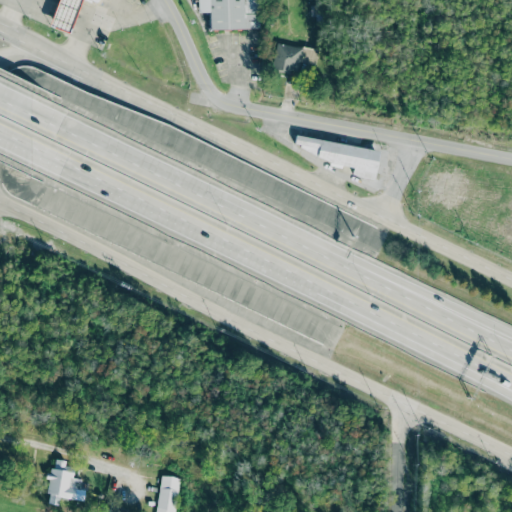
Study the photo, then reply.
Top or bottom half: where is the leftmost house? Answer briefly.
bottom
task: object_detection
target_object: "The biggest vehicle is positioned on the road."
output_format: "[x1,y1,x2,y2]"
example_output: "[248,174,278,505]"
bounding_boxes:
[483,370,510,386]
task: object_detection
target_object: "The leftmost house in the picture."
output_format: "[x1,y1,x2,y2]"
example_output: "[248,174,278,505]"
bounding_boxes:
[45,458,80,500]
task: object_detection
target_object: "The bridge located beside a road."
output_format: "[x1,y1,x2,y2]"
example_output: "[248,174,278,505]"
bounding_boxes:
[0,68,72,181]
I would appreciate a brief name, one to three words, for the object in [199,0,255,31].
building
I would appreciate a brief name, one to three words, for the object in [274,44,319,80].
house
